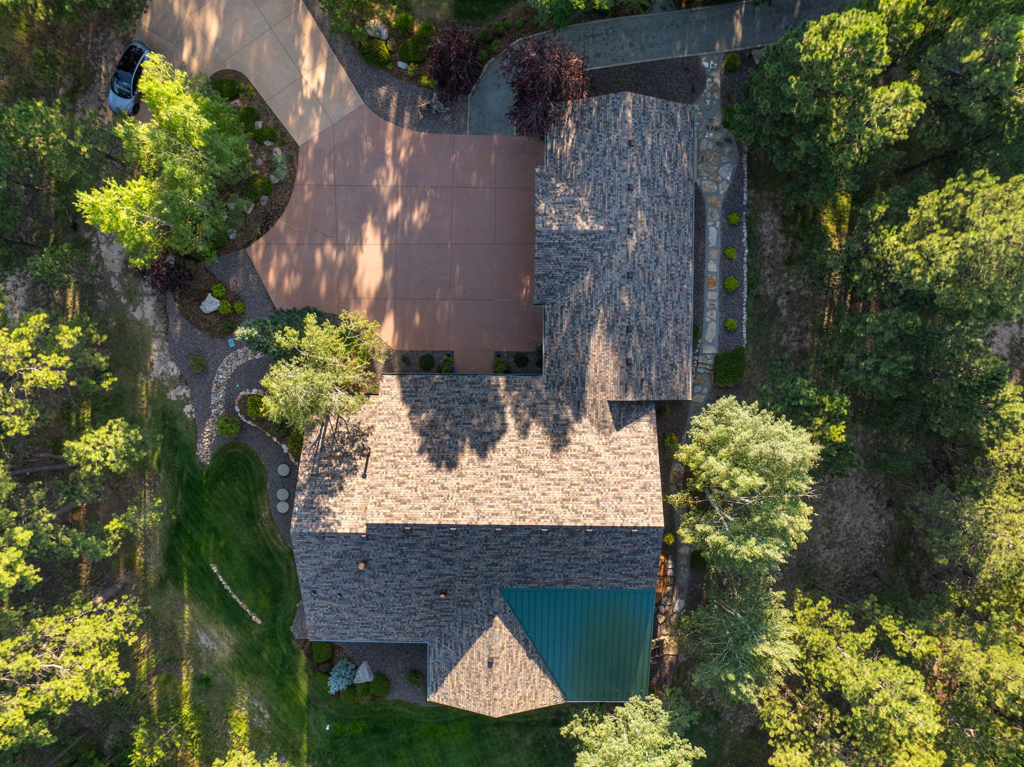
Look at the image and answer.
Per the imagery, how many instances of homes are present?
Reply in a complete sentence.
Altogether the scene contains 1 home.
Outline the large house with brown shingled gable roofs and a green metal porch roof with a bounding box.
[290,91,695,718]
